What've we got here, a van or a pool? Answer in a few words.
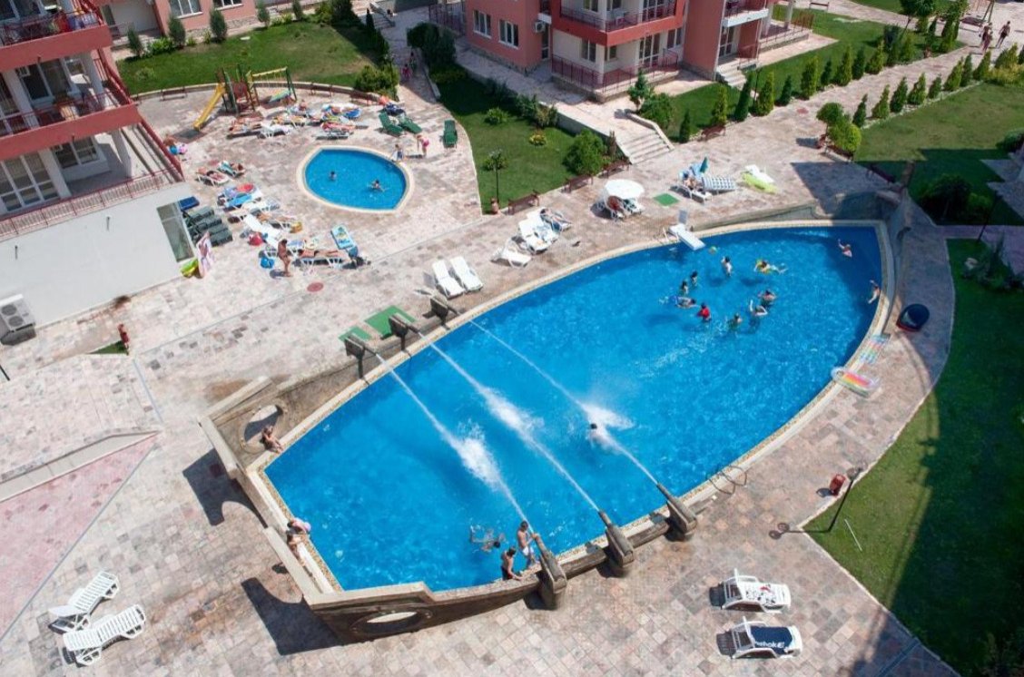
pool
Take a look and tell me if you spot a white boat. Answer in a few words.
No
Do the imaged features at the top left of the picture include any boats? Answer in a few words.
No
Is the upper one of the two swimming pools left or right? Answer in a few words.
left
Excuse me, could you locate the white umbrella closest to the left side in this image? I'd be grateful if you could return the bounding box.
[606,177,648,203]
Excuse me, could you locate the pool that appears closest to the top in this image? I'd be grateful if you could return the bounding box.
[304,150,405,208]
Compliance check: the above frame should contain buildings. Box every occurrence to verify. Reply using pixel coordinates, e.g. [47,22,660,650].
[0,0,214,347]
[460,0,813,102]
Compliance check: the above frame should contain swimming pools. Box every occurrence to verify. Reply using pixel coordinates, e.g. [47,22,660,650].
[304,150,405,208]
[267,228,880,616]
